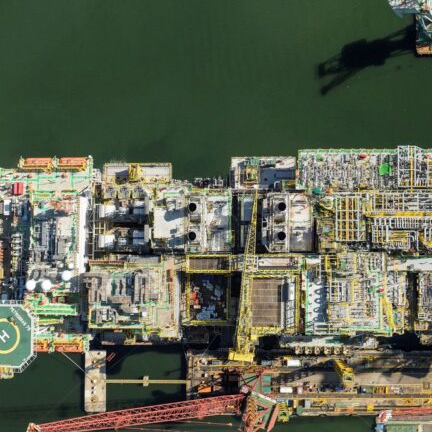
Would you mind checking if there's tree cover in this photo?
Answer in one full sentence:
No, the picture contains no tree cover.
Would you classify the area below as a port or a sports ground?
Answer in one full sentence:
What you see here is a port.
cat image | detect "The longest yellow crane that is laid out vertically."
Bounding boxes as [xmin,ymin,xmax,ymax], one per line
[229,189,265,366]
